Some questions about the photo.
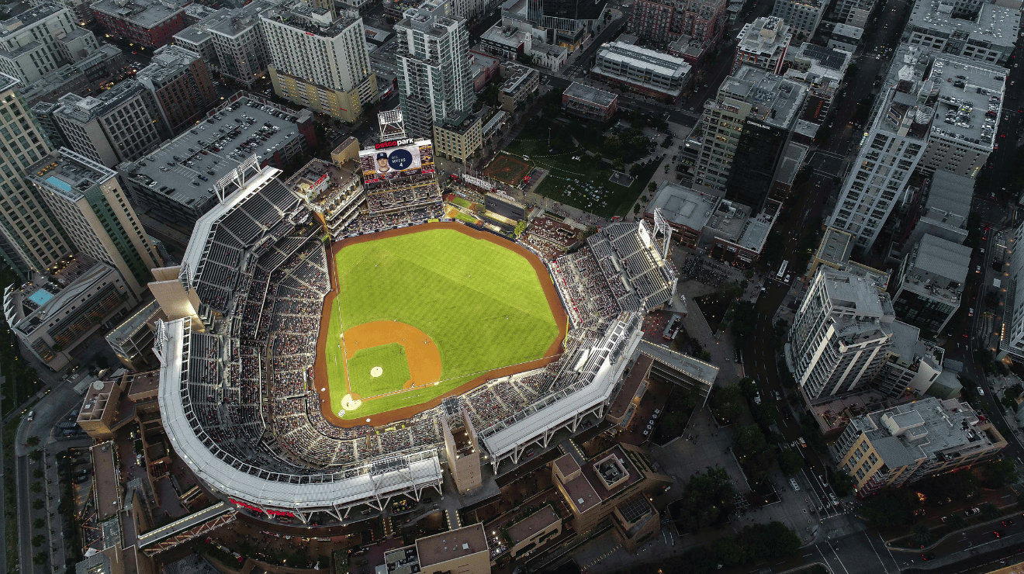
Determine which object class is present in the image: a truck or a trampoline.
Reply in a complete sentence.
The image shows a truck.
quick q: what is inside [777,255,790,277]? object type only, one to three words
vehicle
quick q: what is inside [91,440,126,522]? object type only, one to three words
building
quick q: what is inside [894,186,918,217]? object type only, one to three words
house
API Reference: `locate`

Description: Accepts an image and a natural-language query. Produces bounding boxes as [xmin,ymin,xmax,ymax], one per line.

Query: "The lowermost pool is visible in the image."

[29,289,54,305]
